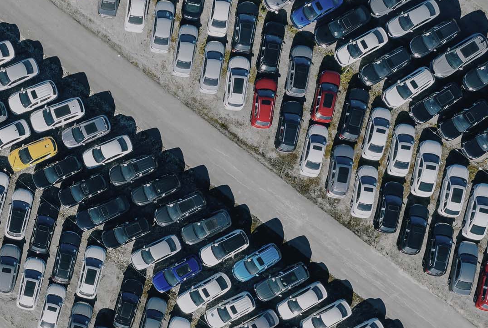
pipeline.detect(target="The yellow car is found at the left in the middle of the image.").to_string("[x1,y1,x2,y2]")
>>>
[8,136,59,171]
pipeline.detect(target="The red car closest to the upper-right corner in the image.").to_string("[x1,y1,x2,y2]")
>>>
[309,71,341,123]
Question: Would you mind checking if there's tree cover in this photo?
No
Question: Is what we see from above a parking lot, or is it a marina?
parking lot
